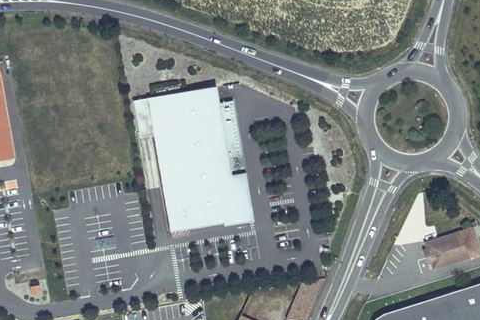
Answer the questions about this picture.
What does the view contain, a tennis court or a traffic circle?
traffic circle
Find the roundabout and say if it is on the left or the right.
right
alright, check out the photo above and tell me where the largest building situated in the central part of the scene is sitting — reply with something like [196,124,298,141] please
[134,87,254,236]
